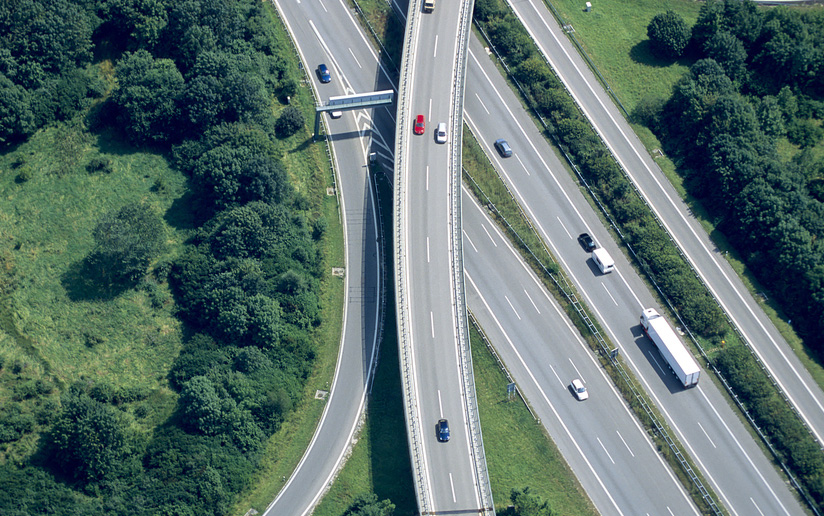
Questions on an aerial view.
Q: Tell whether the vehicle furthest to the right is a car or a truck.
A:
truck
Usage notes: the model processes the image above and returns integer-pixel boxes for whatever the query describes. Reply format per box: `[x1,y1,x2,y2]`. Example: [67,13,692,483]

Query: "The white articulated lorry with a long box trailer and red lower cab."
[640,309,699,386]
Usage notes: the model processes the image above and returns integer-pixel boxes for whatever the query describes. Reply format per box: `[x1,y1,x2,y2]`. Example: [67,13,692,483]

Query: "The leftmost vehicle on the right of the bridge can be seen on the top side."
[496,138,512,157]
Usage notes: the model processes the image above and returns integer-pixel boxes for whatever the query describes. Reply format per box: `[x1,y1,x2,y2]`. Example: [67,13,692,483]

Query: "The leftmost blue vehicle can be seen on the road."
[316,63,332,82]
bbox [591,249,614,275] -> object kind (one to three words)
camper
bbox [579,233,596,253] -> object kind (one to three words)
car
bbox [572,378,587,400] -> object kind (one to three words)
car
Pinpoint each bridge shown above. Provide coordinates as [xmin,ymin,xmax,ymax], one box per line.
[393,0,495,516]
